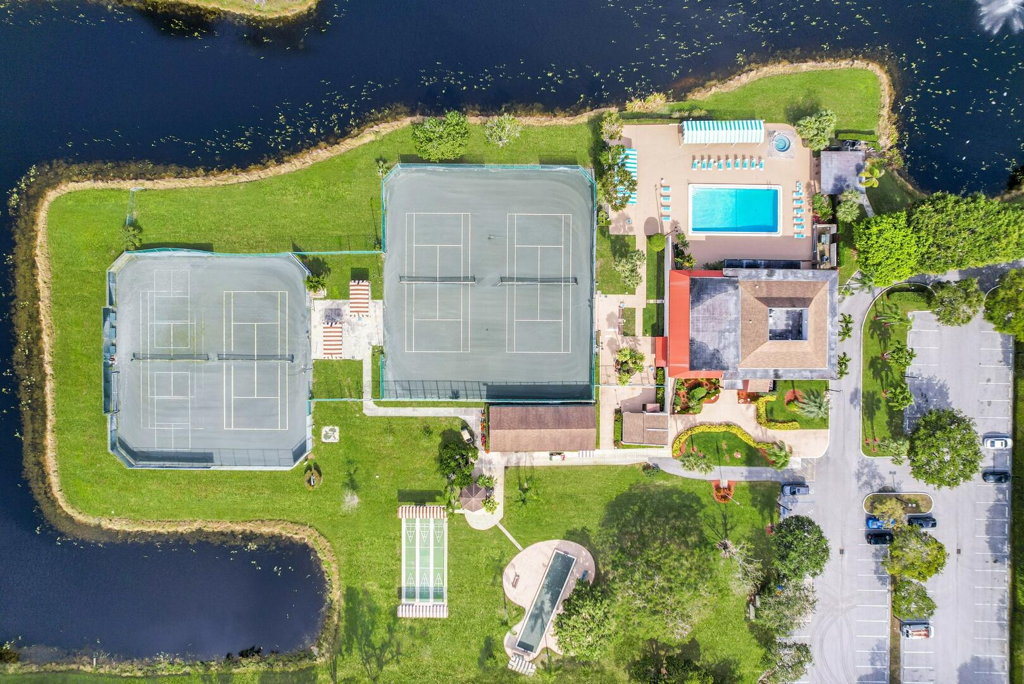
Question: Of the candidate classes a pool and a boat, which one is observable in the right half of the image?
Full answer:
The feature located in the right half of the image is a pool.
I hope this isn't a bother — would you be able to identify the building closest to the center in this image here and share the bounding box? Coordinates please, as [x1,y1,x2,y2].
[490,405,596,451]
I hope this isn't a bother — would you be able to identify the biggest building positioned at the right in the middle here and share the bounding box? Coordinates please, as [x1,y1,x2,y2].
[653,260,839,392]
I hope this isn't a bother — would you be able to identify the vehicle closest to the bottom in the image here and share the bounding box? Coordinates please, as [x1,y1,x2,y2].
[900,622,936,638]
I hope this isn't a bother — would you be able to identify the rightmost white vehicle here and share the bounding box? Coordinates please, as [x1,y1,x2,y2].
[983,436,1012,449]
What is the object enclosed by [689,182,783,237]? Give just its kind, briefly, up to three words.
swimming pool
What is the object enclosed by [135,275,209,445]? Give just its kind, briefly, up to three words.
tennis court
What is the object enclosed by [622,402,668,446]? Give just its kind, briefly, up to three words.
shed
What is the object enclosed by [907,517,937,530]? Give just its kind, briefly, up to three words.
vehicle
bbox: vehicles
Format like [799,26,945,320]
[900,622,936,638]
[461,427,474,441]
[981,471,1011,484]
[866,516,895,530]
[983,436,1012,449]
[907,517,937,530]
[782,483,810,496]
[865,531,894,545]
